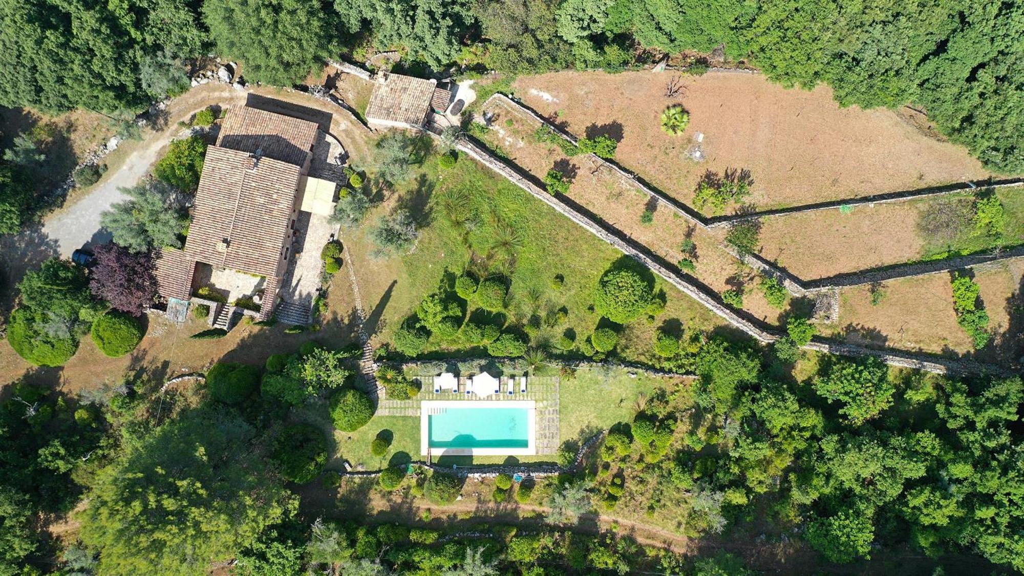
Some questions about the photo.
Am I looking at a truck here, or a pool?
pool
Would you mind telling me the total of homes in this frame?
two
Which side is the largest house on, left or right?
left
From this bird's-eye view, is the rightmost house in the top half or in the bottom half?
top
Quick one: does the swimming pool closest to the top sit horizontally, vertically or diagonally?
horizontally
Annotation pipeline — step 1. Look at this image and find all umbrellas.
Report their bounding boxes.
[473,370,497,399]
[440,373,456,389]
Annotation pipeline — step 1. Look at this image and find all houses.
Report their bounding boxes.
[364,71,453,129]
[151,104,319,300]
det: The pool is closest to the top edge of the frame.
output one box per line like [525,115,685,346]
[421,401,536,455]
